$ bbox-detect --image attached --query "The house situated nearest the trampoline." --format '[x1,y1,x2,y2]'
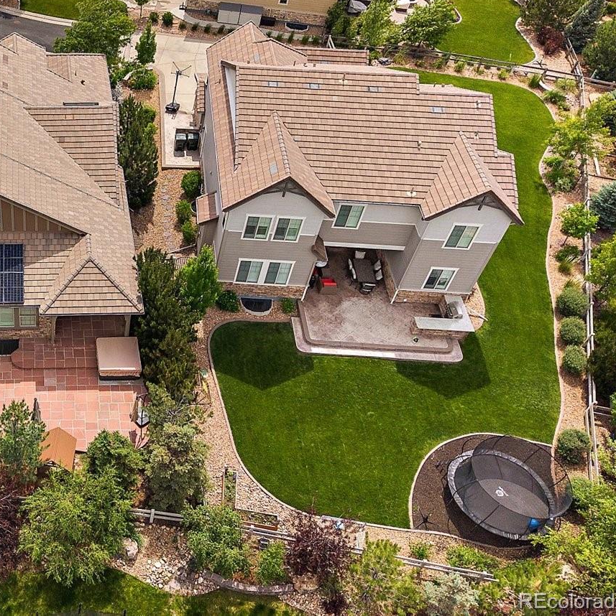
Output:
[193,20,524,321]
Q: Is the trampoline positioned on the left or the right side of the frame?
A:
right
